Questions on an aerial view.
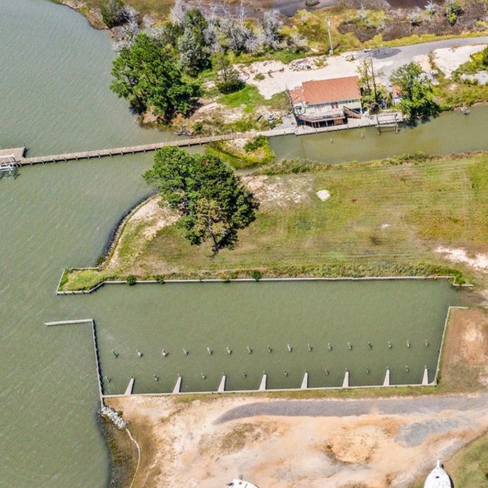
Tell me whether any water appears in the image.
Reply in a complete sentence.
Yes, the picture does contain water.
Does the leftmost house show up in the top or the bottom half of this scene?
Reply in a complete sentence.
The leftmost house sits in the top half of the picture.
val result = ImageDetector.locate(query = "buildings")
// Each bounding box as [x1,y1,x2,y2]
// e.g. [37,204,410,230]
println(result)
[288,75,362,131]
[385,83,402,103]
